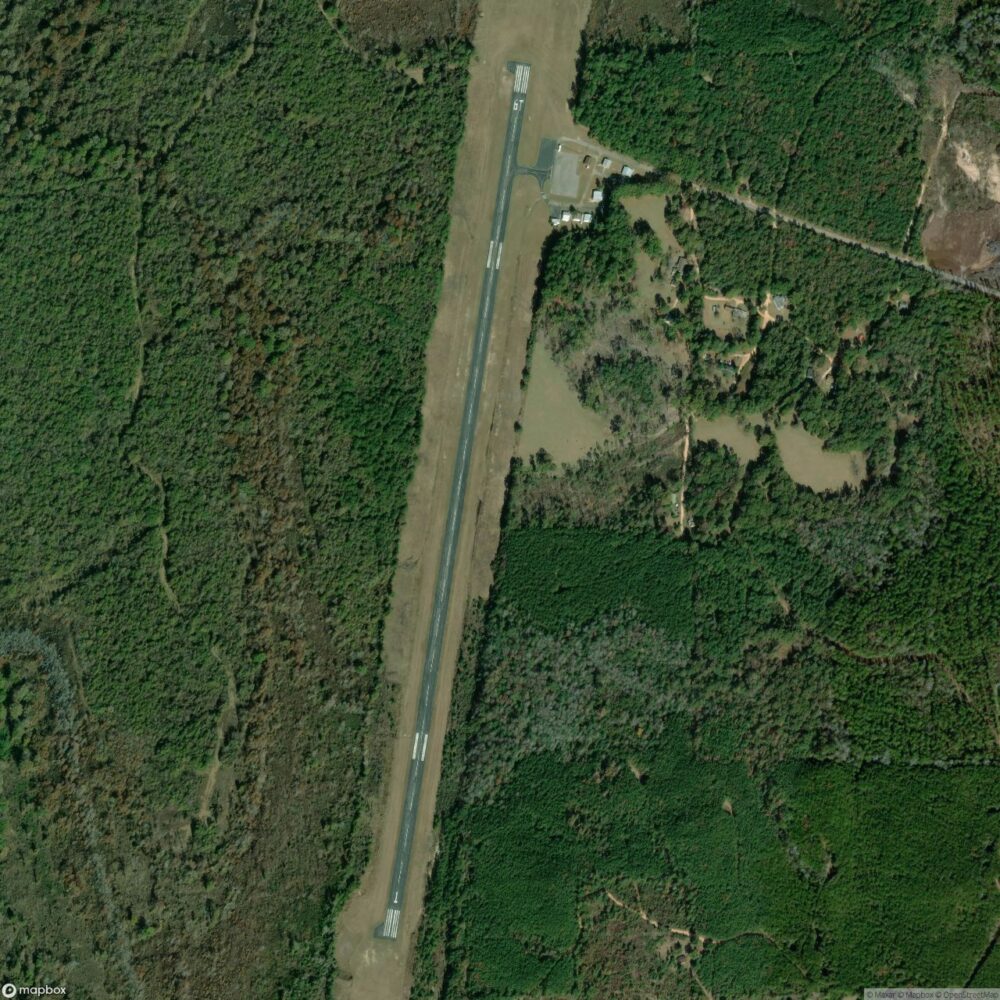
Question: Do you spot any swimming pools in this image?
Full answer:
No, there isn't any swimming pool down there.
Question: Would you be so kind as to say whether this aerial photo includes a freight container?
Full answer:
No, this view has no freight container in it.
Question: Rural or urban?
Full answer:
From above, the setting appears rural.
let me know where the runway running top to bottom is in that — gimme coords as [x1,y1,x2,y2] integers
[384,62,530,939]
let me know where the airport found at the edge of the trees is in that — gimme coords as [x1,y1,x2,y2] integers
[374,59,606,942]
